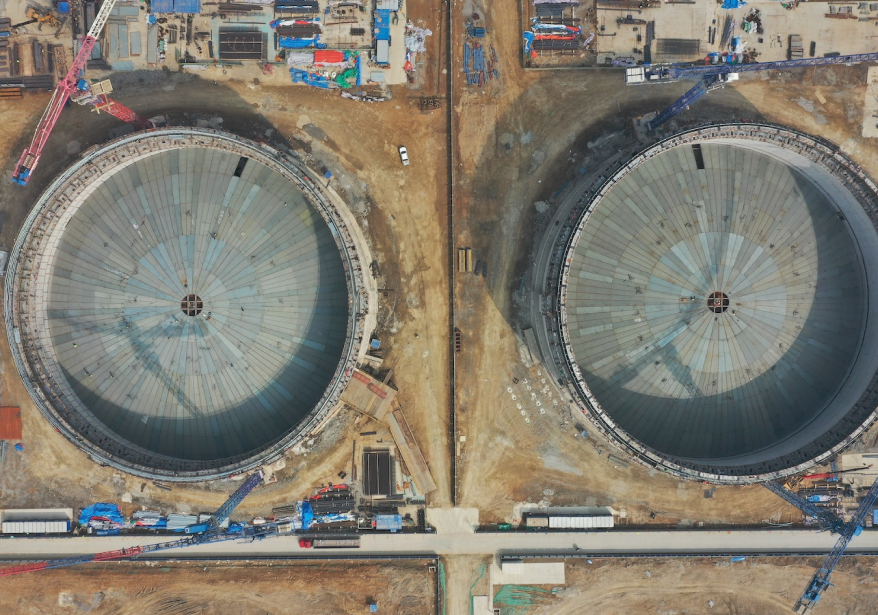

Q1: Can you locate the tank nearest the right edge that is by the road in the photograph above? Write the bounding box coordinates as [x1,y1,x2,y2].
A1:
[531,121,878,485]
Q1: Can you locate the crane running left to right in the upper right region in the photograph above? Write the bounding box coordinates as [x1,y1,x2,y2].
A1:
[623,53,878,138]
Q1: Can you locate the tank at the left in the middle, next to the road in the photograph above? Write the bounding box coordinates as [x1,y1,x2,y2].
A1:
[1,124,376,483]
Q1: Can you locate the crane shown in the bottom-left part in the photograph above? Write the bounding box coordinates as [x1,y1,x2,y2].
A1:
[0,463,304,573]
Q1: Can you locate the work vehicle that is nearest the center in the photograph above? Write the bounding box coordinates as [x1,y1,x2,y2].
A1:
[370,254,382,278]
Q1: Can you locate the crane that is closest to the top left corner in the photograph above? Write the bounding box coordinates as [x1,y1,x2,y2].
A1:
[10,3,63,34]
